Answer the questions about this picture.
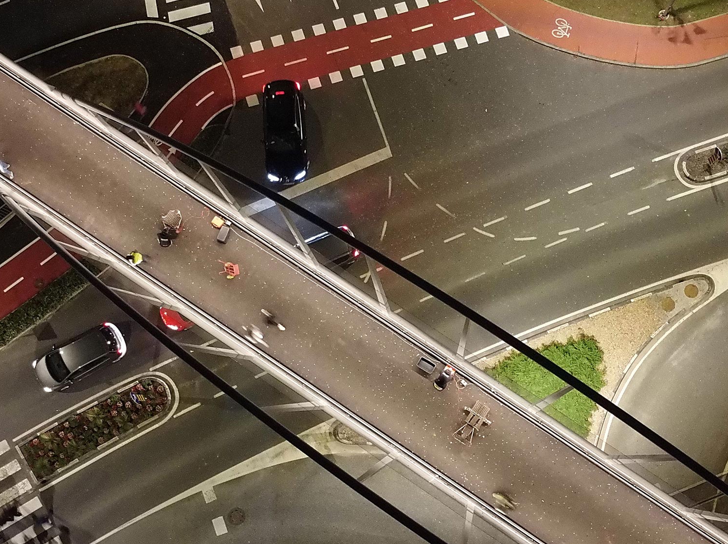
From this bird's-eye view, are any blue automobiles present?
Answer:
No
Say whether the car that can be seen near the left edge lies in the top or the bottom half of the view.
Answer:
bottom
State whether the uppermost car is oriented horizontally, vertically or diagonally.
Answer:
vertically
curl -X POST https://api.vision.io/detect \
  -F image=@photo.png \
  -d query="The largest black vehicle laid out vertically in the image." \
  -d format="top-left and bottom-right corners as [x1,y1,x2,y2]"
[254,76,306,184]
